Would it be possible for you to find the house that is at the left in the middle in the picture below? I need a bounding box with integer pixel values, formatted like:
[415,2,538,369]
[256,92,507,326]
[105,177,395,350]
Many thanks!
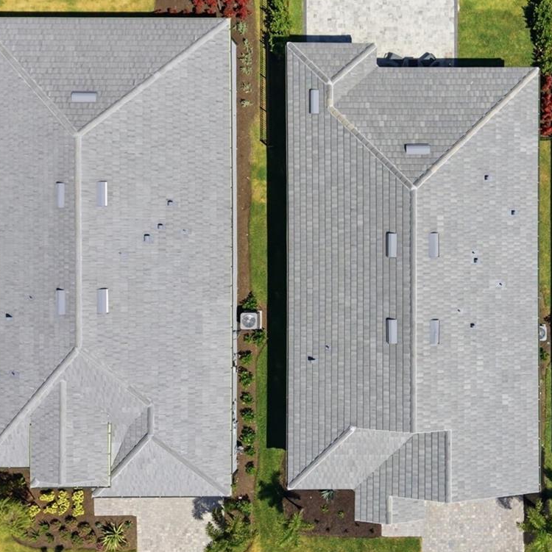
[0,15,238,499]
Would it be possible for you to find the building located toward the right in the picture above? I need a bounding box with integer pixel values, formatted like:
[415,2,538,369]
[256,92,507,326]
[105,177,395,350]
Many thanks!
[284,40,542,527]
